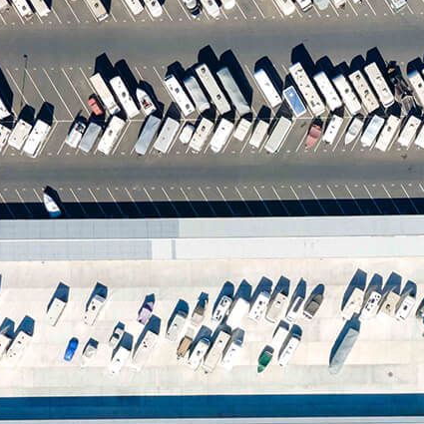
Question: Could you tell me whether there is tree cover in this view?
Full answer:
No, there's no tree cover in this view.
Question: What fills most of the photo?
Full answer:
The scene is dominated by paved ground.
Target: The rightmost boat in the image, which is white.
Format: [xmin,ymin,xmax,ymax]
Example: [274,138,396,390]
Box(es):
[347,116,363,144]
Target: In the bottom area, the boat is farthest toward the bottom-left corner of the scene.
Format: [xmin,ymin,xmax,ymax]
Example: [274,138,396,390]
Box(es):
[110,327,123,346]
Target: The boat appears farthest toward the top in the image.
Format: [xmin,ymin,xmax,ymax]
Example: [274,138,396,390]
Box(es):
[139,88,155,114]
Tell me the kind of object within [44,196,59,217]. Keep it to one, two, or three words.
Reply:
boat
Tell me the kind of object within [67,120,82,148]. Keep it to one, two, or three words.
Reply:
boat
